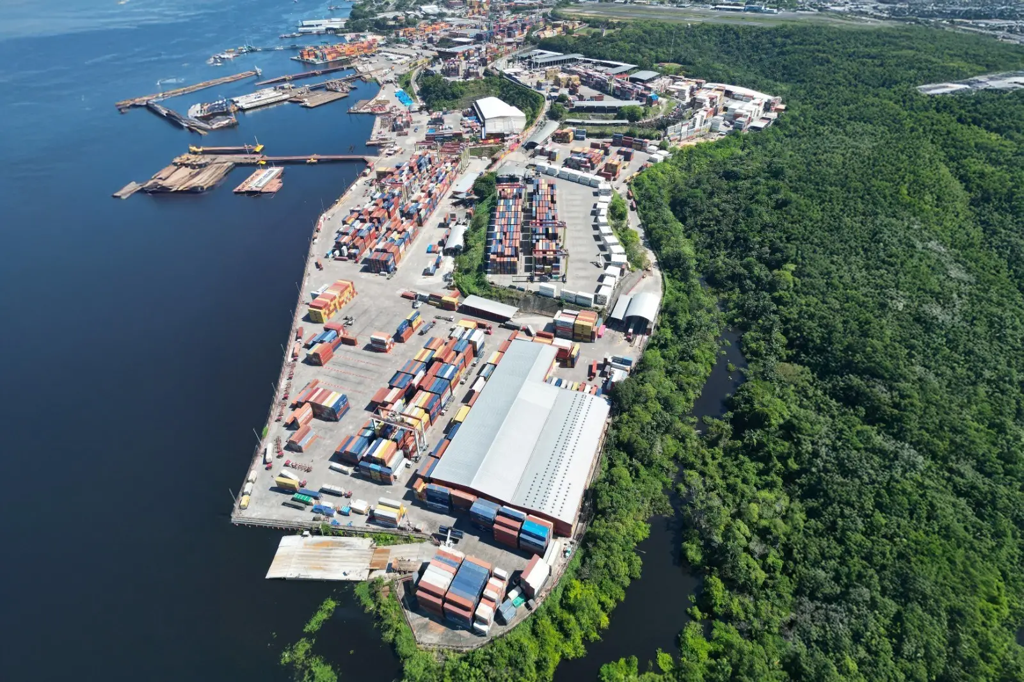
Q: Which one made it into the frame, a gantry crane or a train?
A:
gantry crane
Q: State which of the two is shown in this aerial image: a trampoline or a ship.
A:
ship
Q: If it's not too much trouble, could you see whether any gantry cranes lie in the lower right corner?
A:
No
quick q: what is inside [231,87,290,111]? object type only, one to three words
ship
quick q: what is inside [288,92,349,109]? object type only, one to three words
ship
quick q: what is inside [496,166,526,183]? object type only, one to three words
shed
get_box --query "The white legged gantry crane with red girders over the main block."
[363,406,428,462]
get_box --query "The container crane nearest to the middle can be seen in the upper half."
[529,250,573,283]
